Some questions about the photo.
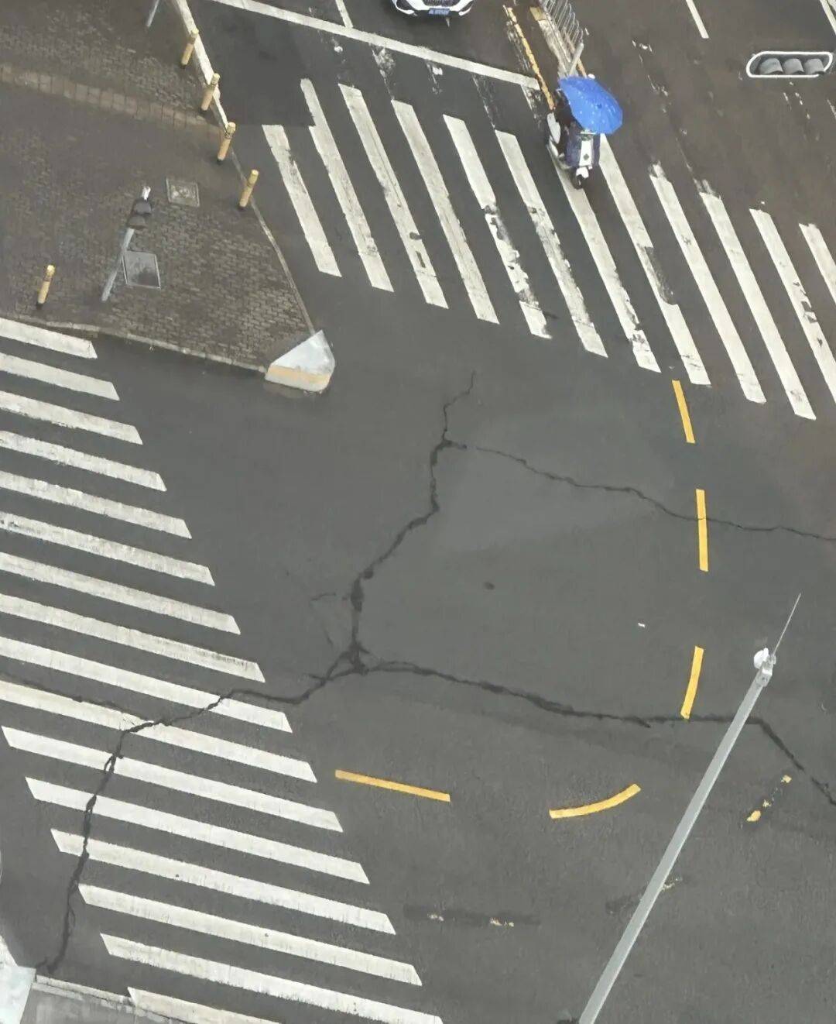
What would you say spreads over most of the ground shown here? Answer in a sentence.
Most of the picture is covered by paved ground.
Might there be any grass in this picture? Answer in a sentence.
No, the scene doesn't show any grass.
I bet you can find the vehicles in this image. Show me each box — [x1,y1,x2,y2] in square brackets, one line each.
[554,93,599,189]
[376,0,473,19]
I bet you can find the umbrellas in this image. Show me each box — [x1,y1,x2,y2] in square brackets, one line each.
[560,76,623,134]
